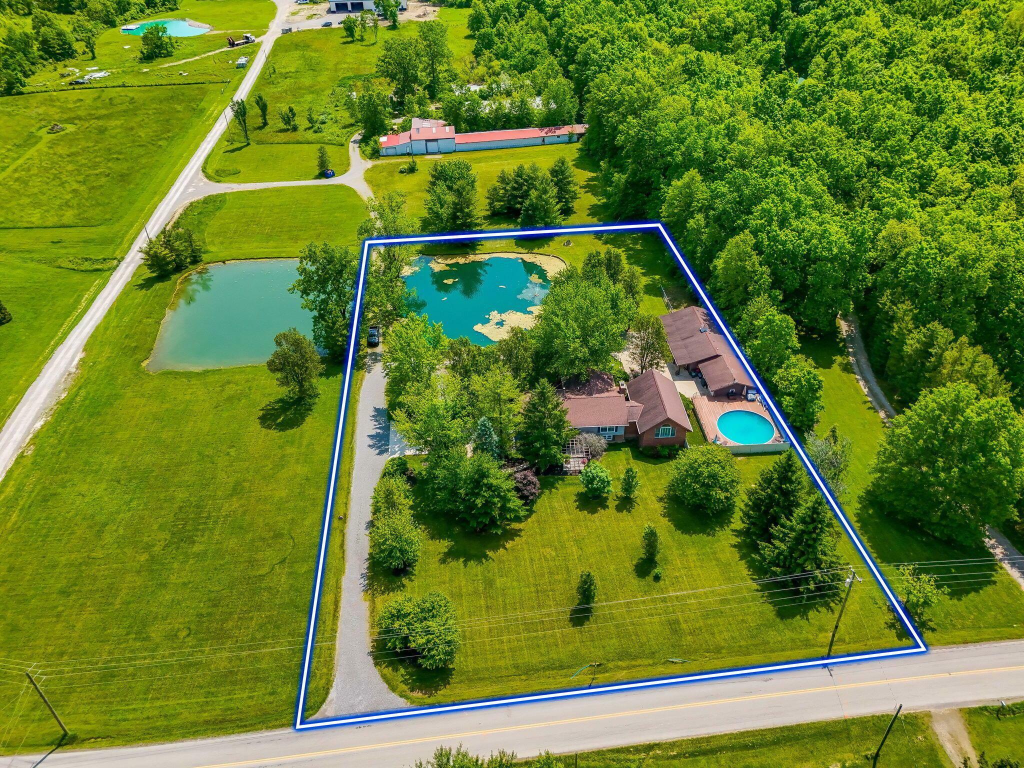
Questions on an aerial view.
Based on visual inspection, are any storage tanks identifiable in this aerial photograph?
No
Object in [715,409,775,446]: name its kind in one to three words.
swimming pool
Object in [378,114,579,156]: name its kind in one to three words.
barn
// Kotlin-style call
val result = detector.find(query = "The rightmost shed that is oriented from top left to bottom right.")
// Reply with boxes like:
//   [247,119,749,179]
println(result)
[657,304,759,401]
